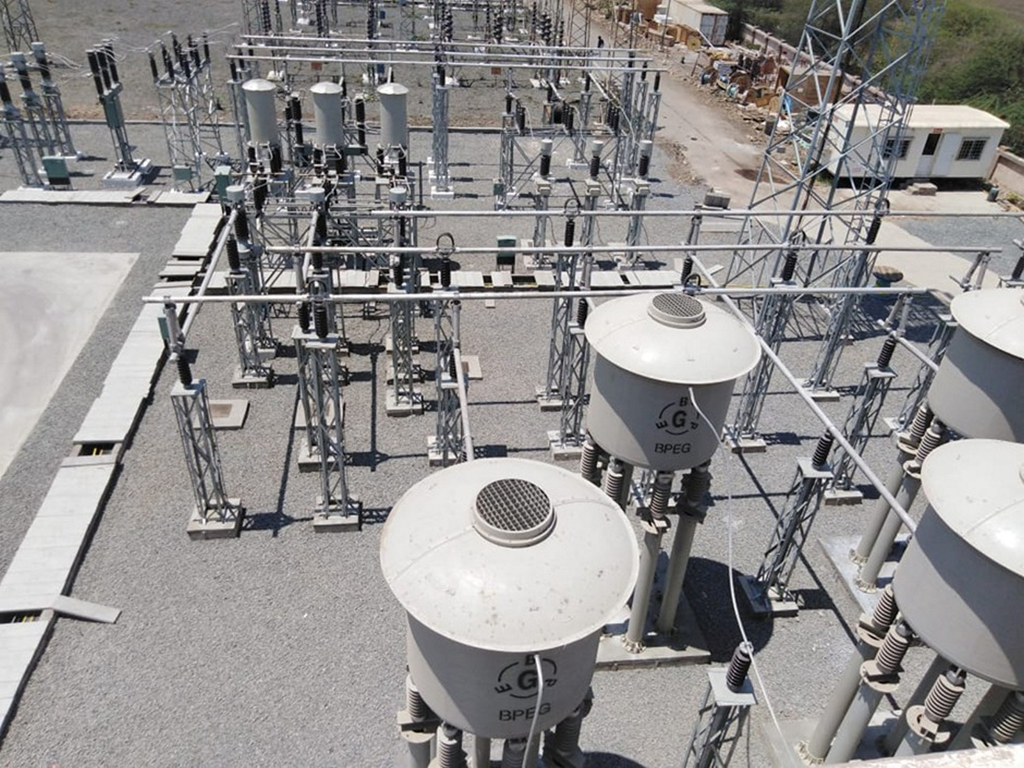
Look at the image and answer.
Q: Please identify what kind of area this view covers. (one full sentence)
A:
It's an industrial area.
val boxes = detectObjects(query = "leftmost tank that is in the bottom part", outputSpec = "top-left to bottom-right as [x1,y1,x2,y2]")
[408,614,603,733]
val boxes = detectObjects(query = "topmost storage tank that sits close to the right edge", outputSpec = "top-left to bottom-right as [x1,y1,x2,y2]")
[930,321,1024,443]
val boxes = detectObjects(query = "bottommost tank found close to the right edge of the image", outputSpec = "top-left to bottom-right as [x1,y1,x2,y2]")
[897,507,1024,684]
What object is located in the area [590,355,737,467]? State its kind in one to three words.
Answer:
storage tank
